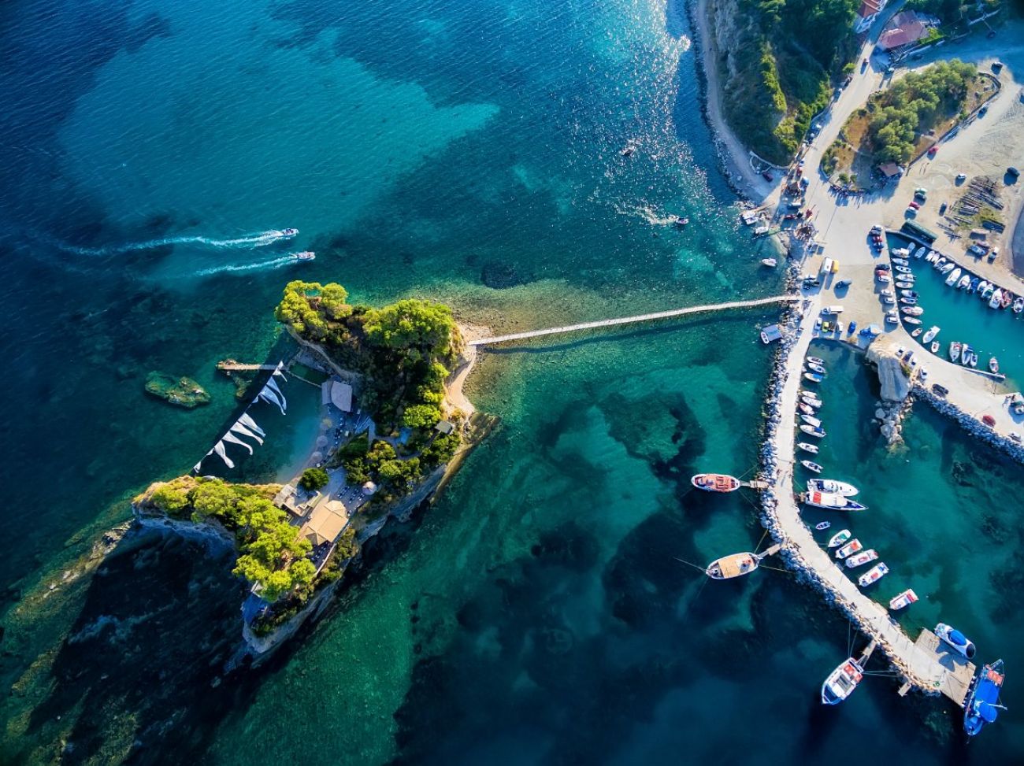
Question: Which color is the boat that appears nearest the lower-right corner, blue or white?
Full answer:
The color of the boat that appears nearest the lower-right corner is blue.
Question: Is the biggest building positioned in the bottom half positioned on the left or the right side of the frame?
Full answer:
The biggest building positioned in the bottom half sits on the left side.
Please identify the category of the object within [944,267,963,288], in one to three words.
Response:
boat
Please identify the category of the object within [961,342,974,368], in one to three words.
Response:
boat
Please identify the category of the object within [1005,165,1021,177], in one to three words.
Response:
vehicle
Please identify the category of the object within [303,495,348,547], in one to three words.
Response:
building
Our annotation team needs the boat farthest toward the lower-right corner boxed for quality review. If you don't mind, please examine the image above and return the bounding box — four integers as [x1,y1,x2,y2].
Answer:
[964,663,1009,741]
